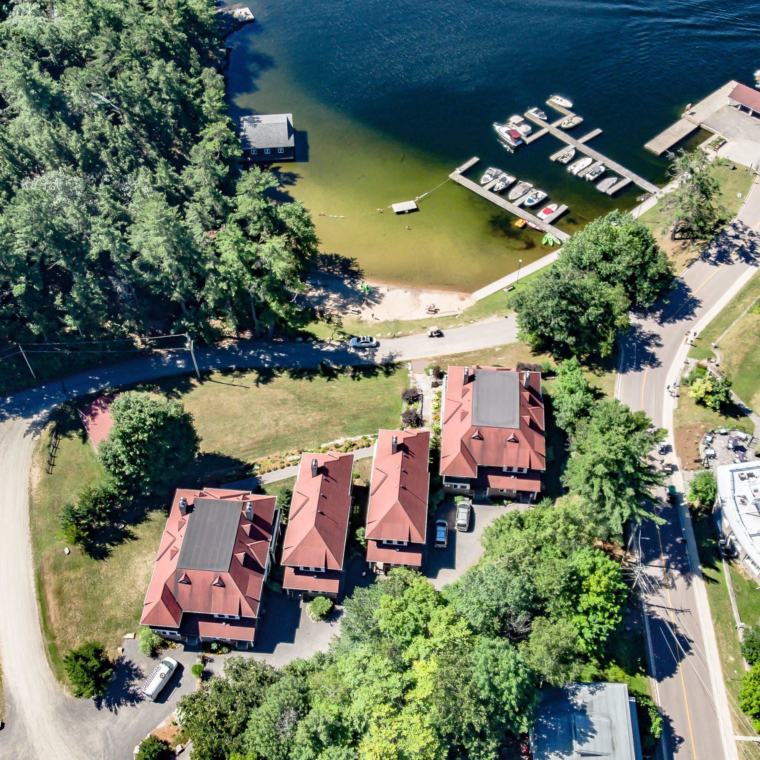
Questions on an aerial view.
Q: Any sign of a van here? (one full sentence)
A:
Yes, a van appears in the view.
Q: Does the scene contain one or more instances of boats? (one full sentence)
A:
Yes, I can see a boat in this picture.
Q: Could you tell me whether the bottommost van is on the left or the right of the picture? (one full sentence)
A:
You can find the bottommost van on the left side of the picture.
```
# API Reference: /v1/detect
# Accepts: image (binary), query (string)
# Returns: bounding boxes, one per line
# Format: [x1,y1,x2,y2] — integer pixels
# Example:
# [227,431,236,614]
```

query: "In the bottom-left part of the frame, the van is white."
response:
[141,655,177,700]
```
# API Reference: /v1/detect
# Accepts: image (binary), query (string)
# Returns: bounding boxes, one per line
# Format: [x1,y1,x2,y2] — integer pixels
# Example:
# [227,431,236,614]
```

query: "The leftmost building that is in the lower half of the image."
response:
[139,483,286,655]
